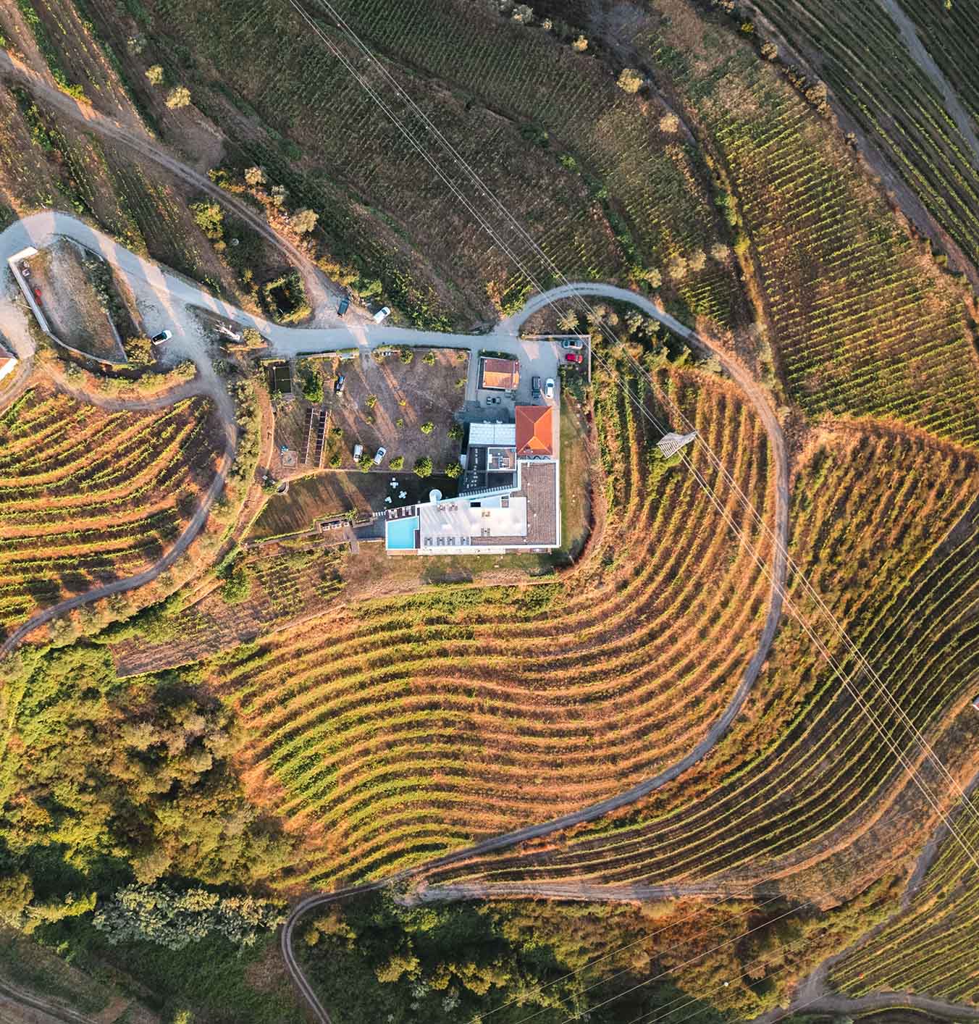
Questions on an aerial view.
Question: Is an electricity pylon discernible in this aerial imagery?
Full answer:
Yes, an electricity pylon can be made out from above.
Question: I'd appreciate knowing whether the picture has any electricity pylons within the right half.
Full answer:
Yes, an electricity pylon shows up within the right half.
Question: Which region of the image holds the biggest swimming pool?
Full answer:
The biggest swimming pool is in the center part of the image.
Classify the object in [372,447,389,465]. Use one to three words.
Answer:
car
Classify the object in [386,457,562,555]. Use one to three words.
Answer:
building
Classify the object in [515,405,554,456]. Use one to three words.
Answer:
house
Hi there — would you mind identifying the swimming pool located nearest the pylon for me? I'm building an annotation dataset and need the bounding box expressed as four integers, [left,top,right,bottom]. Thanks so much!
[389,516,417,547]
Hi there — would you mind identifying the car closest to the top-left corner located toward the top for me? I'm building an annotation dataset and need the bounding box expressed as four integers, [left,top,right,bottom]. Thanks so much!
[151,329,171,344]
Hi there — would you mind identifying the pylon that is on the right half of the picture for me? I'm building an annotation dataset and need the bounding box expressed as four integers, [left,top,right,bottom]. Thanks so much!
[647,428,701,464]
